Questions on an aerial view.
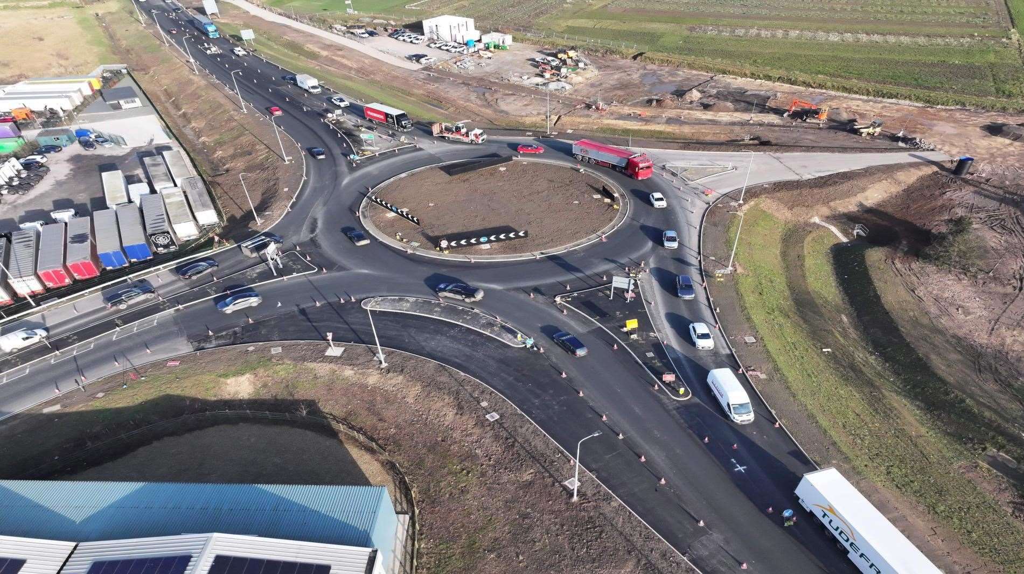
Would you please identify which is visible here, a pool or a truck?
truck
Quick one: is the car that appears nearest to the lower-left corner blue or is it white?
white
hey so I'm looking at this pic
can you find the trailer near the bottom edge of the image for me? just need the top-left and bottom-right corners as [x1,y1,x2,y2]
[796,466,942,574]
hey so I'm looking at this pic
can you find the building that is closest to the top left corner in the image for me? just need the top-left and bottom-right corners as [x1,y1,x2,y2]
[103,83,144,111]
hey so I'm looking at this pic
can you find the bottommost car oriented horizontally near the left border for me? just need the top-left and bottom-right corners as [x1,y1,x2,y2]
[0,326,47,352]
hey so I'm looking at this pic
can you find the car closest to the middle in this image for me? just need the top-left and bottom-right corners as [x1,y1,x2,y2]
[438,280,481,301]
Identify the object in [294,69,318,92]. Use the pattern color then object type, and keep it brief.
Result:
white vehicle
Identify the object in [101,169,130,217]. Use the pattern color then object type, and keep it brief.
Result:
white trailer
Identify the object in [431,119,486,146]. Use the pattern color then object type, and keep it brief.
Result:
white truck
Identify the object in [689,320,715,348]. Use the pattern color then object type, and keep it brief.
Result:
white car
